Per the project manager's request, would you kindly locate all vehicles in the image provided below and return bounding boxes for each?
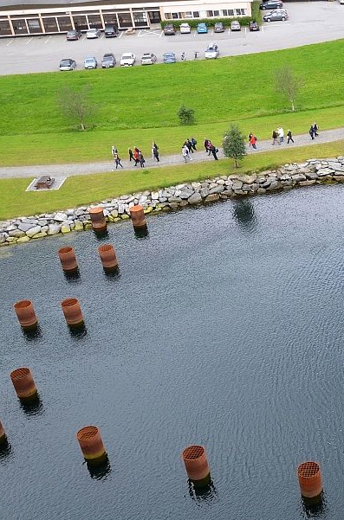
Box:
[161,48,177,62]
[86,24,102,37]
[263,0,282,9]
[212,19,225,30]
[203,44,217,58]
[179,20,192,31]
[163,21,177,34]
[196,19,209,31]
[59,56,76,70]
[139,51,154,64]
[100,50,117,67]
[82,53,99,68]
[119,50,136,65]
[247,19,260,30]
[229,17,242,29]
[65,26,82,39]
[105,21,121,36]
[264,9,290,21]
